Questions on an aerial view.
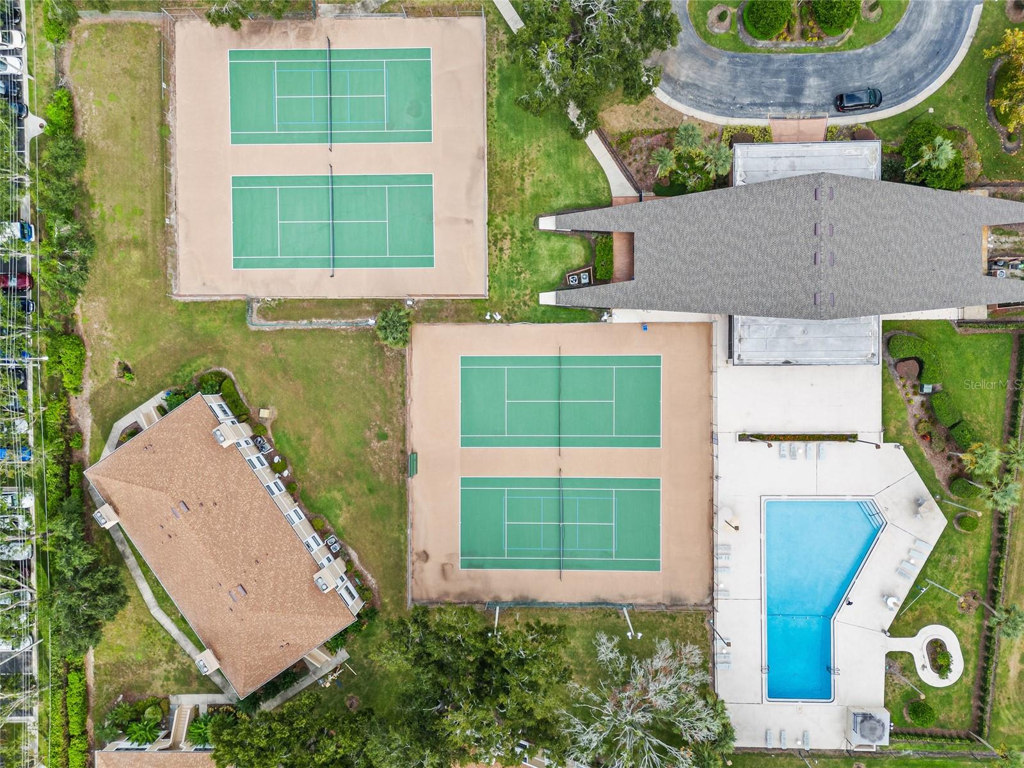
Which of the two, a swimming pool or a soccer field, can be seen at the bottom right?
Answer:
swimming pool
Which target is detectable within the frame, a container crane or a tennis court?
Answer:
tennis court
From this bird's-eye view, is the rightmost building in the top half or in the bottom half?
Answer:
top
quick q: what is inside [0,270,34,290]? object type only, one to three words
car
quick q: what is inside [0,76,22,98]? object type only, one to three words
car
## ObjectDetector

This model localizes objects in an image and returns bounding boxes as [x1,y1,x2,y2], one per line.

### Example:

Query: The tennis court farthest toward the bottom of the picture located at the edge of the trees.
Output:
[458,469,663,581]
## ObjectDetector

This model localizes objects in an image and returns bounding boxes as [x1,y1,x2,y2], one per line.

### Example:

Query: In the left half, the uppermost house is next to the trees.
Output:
[86,393,369,700]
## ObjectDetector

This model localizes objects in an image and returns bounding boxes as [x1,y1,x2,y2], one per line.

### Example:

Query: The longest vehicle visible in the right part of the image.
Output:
[837,85,884,111]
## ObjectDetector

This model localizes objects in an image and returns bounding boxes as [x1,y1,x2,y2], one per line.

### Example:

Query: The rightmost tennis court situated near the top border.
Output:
[228,38,433,151]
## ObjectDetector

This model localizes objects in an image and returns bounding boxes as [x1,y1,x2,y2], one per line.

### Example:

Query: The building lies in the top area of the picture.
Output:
[542,140,1024,365]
